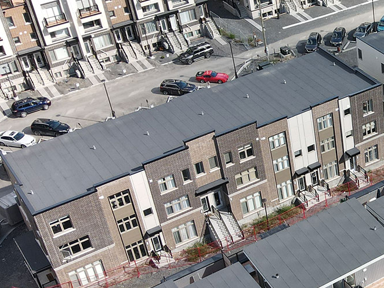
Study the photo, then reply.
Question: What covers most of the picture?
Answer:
buildings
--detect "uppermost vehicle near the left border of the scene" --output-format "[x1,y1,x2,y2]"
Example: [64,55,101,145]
[11,93,51,114]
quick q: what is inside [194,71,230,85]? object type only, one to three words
car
